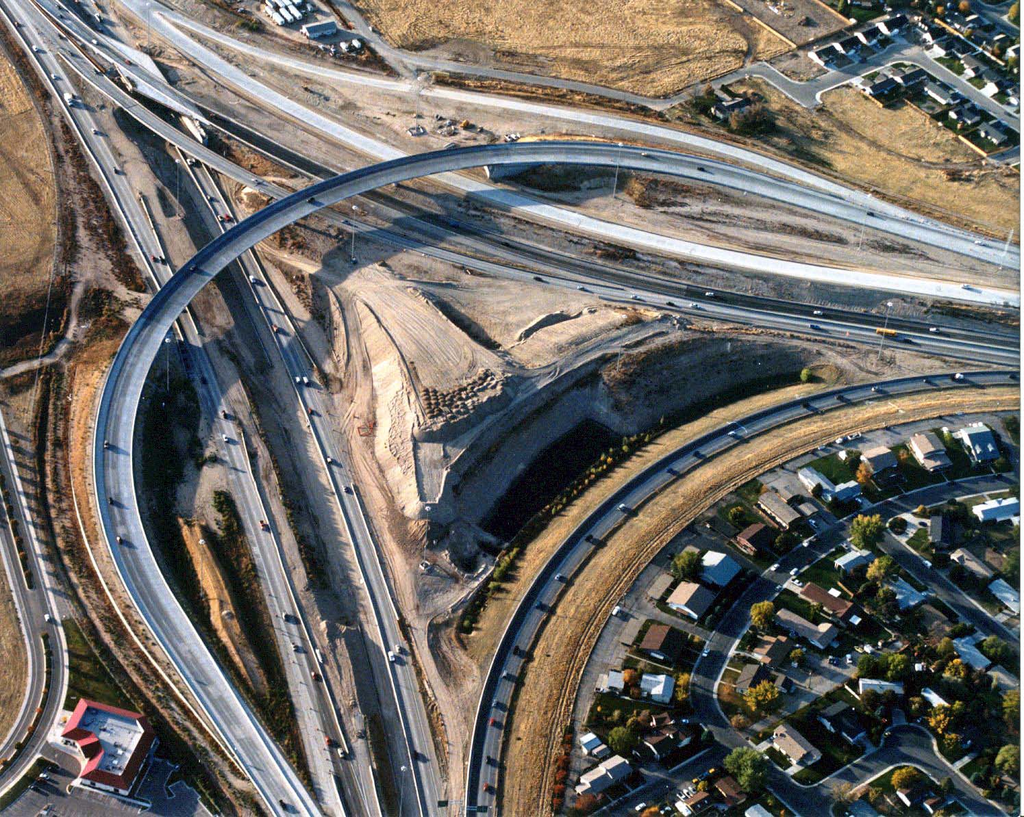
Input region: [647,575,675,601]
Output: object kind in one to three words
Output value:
building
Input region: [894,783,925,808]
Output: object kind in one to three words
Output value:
house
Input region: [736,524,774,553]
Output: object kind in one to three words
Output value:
house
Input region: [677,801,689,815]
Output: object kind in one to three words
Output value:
vehicle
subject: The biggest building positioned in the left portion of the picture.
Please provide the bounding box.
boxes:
[62,699,157,794]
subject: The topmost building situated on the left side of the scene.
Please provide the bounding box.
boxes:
[300,21,339,38]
